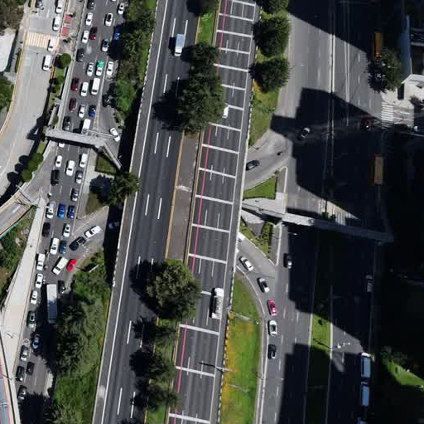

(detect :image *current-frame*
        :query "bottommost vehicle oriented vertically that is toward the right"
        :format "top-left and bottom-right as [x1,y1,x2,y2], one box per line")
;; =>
[359,379,372,407]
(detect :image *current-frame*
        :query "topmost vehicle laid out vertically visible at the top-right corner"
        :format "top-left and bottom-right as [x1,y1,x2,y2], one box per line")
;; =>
[372,31,385,59]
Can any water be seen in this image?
No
